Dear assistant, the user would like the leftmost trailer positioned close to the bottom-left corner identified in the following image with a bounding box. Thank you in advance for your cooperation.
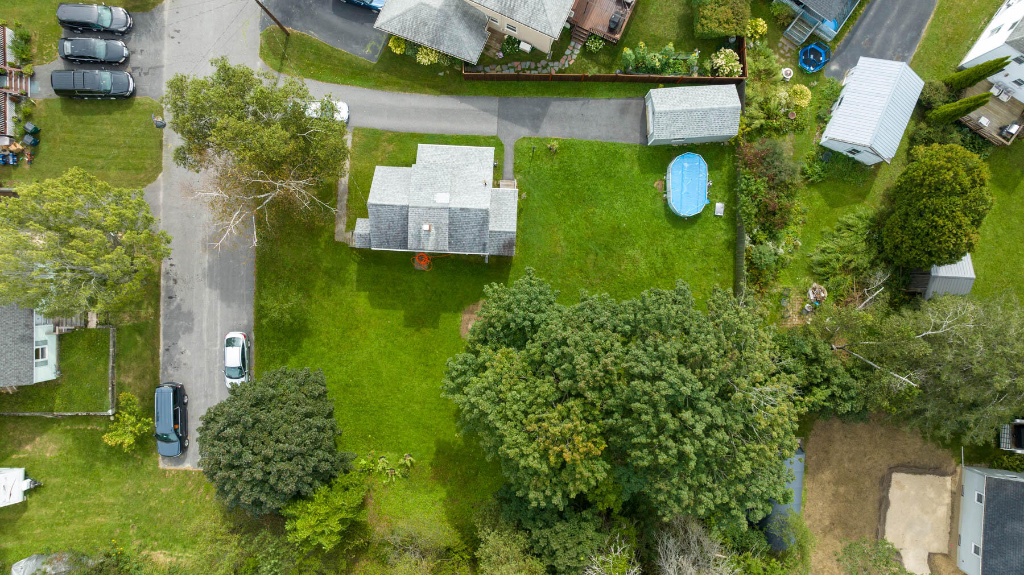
[0,464,46,508]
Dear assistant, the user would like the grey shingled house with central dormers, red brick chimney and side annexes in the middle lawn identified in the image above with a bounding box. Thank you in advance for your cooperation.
[355,142,518,264]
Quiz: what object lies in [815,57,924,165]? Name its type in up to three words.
building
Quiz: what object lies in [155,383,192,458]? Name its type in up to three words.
car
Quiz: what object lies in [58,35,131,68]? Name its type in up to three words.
car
